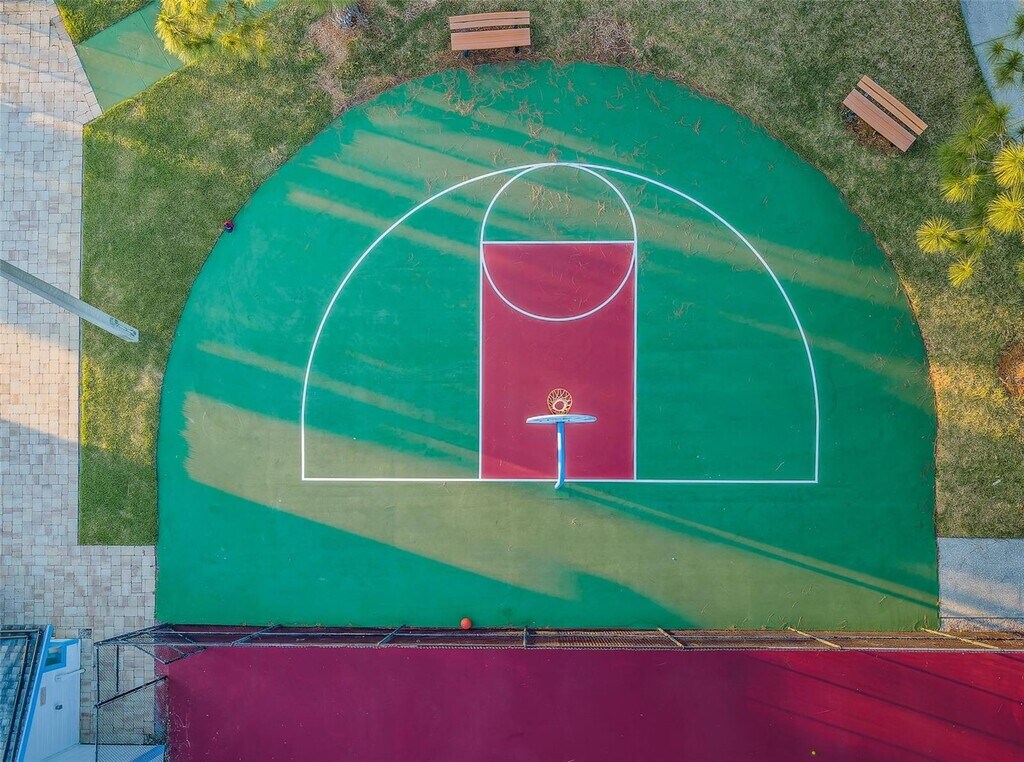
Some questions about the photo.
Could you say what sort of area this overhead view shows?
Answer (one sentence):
The area seen from above is a sports ground.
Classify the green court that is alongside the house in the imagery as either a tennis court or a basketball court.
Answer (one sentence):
The green court that is alongside the house appears to be a basketball court.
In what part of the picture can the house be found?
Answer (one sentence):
The house is located in the bottom left region of the scene.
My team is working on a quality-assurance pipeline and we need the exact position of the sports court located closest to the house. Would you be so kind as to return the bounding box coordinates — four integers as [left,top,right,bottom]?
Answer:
[153,628,1024,762]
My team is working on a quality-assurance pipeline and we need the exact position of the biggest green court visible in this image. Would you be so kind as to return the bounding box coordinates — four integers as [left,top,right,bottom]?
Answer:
[155,60,941,627]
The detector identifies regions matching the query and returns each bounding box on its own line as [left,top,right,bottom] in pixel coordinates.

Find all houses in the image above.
[0,623,163,762]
